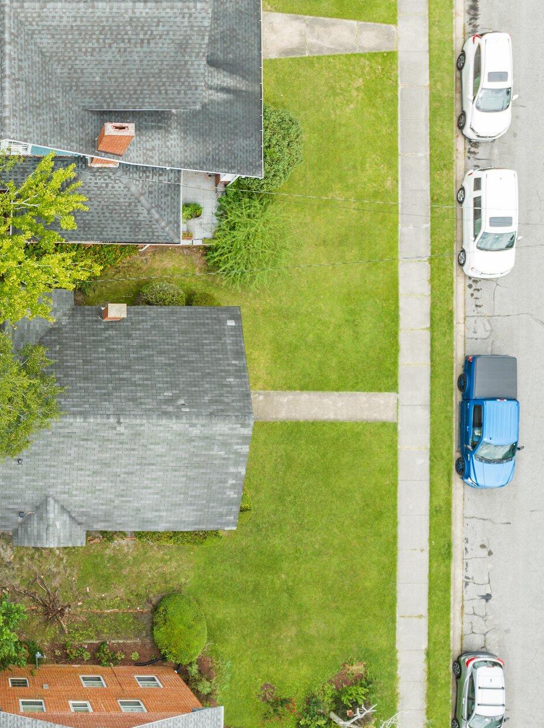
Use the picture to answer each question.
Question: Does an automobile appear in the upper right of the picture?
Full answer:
Yes, I can see an automobile in the upper right of the picture.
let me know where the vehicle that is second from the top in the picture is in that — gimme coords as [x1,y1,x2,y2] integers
[458,168,524,282]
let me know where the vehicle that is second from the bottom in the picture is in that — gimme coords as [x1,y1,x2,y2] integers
[457,356,525,491]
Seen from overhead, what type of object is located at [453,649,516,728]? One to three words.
car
